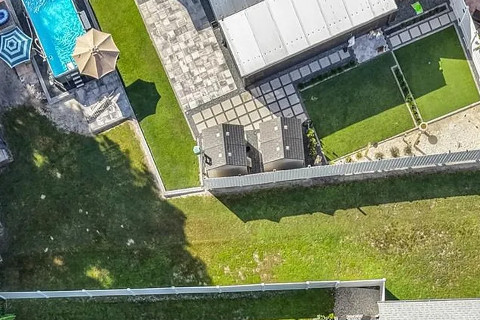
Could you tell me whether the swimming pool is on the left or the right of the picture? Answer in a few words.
left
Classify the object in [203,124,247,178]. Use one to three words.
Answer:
shed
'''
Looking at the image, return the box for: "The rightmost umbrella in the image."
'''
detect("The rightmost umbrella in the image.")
[72,31,121,80]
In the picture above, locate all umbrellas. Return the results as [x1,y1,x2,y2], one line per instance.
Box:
[72,31,121,80]
[0,30,33,69]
